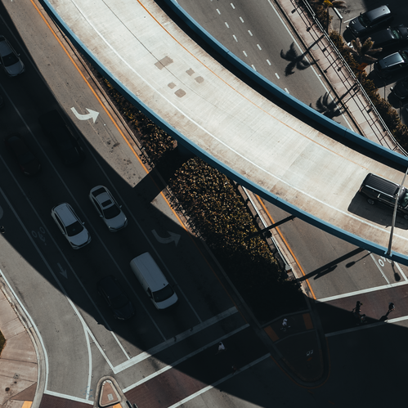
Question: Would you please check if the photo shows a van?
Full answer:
Yes, this view includes a van.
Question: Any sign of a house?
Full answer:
No, no house is visible in the view.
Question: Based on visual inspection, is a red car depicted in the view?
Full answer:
No, the picture doesn't show any red car.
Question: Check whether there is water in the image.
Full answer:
No, the picture contains no water.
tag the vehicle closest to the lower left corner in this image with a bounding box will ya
[94,273,139,322]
